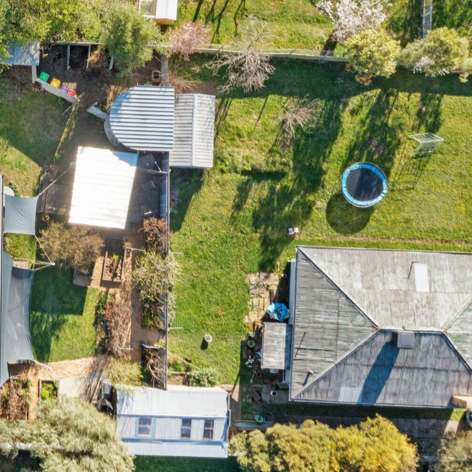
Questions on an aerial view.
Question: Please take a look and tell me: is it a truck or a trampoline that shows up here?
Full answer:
Of the two, only a trampoline appears.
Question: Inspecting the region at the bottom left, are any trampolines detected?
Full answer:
No, no trampoline is visible at the bottom left.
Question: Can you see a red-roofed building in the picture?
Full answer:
No, no red-roofed building can be seen from above.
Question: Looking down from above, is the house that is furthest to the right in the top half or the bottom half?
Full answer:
It is in the bottom half that the house that is furthest to the right appears.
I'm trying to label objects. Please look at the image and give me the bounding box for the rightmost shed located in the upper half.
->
[168,93,214,171]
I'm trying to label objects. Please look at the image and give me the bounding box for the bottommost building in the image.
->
[110,383,230,458]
